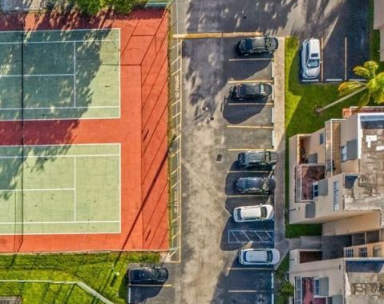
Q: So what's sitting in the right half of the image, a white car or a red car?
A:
white car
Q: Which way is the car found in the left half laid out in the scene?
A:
horizontally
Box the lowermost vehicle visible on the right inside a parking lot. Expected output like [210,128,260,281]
[237,247,281,266]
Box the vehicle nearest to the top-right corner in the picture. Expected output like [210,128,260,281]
[300,39,322,81]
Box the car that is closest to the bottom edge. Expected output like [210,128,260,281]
[126,265,169,285]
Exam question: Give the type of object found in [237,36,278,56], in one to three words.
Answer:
car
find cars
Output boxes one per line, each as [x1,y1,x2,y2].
[236,148,280,169]
[233,176,275,194]
[237,247,281,266]
[237,36,278,56]
[232,204,275,223]
[126,265,169,285]
[231,82,272,101]
[300,39,322,81]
